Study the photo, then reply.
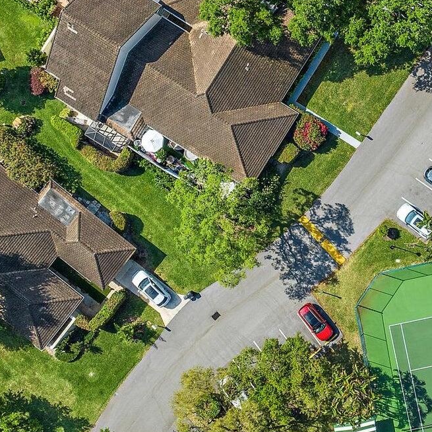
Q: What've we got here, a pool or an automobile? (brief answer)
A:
automobile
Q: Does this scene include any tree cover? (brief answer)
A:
Yes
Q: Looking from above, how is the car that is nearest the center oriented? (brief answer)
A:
on a diagonal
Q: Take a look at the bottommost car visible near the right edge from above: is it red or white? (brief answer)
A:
white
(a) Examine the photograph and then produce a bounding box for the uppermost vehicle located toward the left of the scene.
[131,270,173,310]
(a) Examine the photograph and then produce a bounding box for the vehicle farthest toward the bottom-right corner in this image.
[298,302,333,343]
